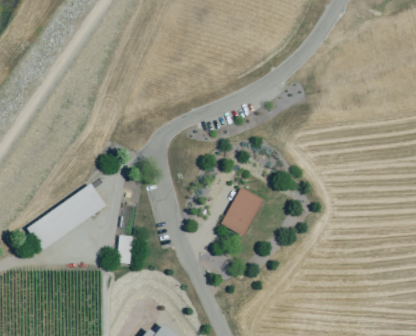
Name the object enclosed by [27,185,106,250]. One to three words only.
barn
